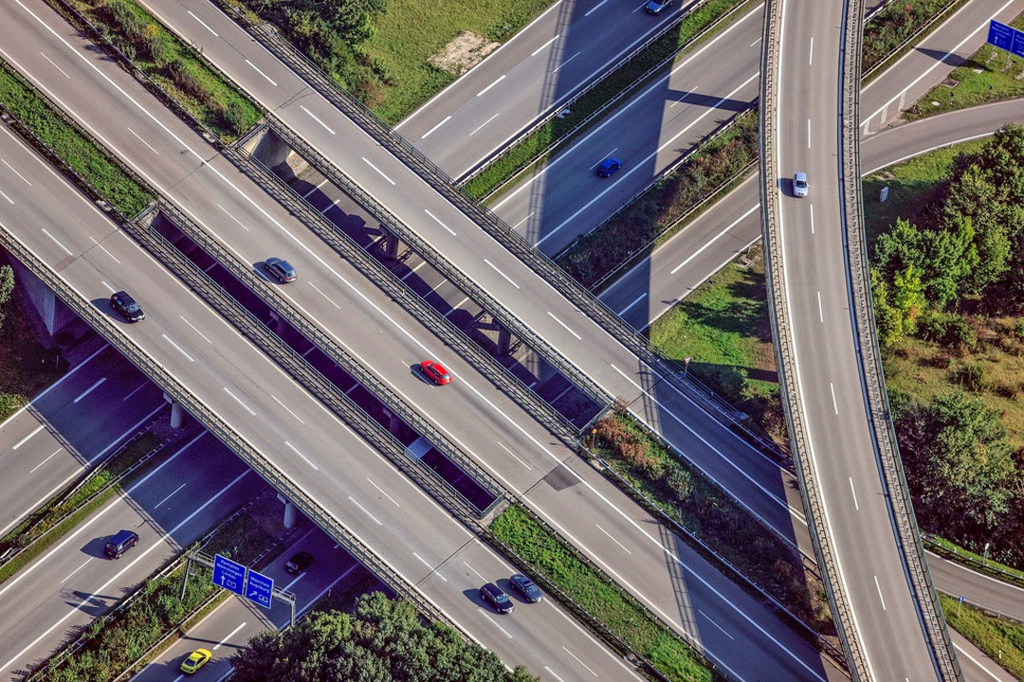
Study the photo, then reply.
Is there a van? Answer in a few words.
Yes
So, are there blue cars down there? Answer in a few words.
Yes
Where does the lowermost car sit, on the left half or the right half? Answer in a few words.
left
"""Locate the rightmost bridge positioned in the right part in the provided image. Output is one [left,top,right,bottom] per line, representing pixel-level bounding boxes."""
[755,0,966,682]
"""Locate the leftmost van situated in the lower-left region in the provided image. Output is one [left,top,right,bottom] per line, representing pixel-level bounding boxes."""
[107,527,144,558]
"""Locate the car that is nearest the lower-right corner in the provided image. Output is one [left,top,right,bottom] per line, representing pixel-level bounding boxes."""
[509,576,545,607]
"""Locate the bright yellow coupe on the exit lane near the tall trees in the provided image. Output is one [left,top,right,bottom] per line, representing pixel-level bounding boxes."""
[175,645,208,670]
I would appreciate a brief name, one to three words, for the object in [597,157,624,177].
car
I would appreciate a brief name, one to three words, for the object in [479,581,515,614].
car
